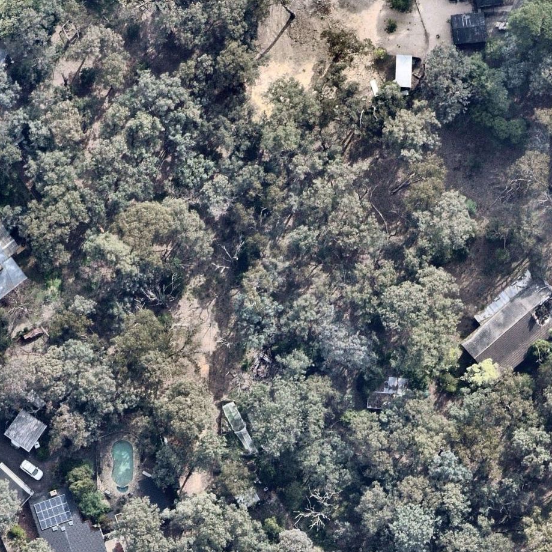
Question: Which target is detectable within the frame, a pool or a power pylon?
pool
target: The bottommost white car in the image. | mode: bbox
[19,461,44,479]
